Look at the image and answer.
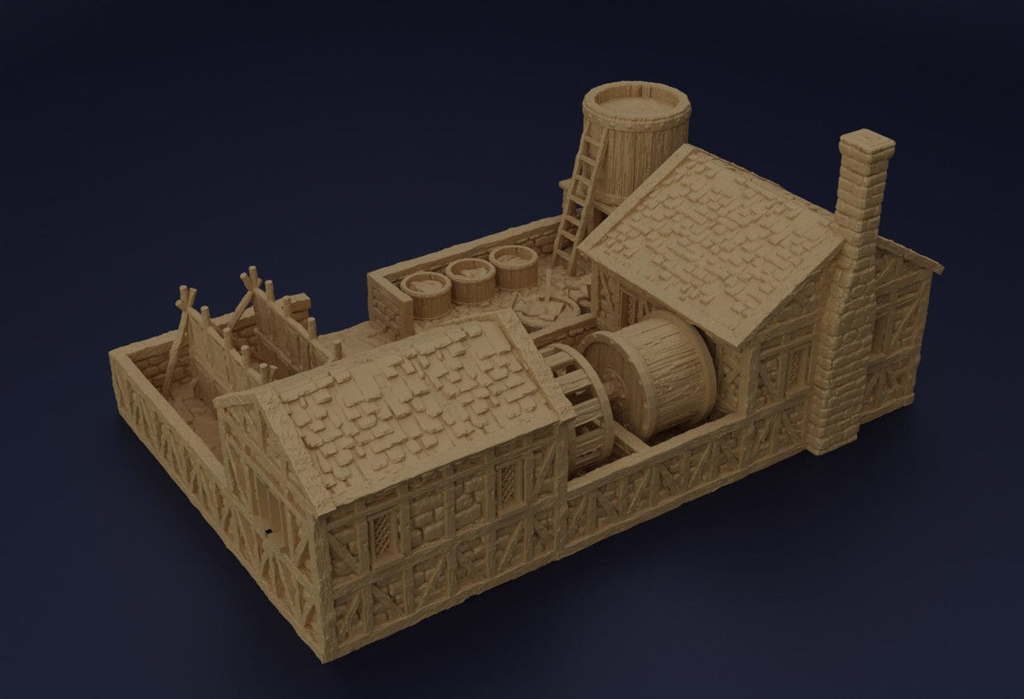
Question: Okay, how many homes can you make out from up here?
2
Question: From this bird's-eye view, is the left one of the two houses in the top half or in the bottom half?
bottom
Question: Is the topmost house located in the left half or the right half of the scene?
right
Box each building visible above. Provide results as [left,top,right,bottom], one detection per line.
[577,127,943,478]
[210,305,576,665]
